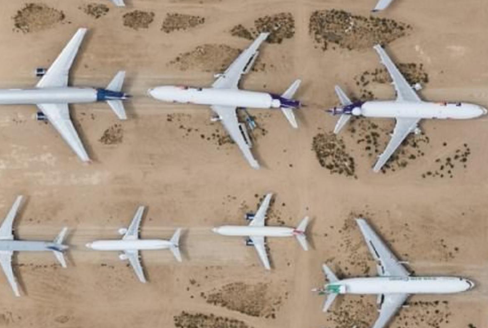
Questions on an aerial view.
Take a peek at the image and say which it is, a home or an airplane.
airplane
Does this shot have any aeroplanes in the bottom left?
Yes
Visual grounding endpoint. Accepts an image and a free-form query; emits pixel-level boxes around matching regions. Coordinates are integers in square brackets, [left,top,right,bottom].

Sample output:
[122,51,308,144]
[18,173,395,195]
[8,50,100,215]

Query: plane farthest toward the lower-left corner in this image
[0,195,68,294]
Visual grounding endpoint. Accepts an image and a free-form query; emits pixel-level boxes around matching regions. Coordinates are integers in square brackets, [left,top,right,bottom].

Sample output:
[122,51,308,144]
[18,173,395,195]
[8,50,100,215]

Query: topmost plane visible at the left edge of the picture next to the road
[0,28,130,167]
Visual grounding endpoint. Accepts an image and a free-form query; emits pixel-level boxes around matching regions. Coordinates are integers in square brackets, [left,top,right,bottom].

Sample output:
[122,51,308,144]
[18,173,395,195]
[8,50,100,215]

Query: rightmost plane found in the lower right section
[315,219,475,328]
